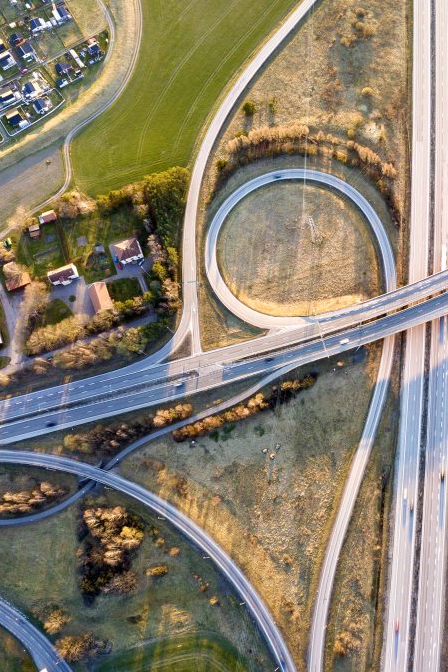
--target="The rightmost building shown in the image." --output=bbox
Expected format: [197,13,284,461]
[114,237,146,267]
